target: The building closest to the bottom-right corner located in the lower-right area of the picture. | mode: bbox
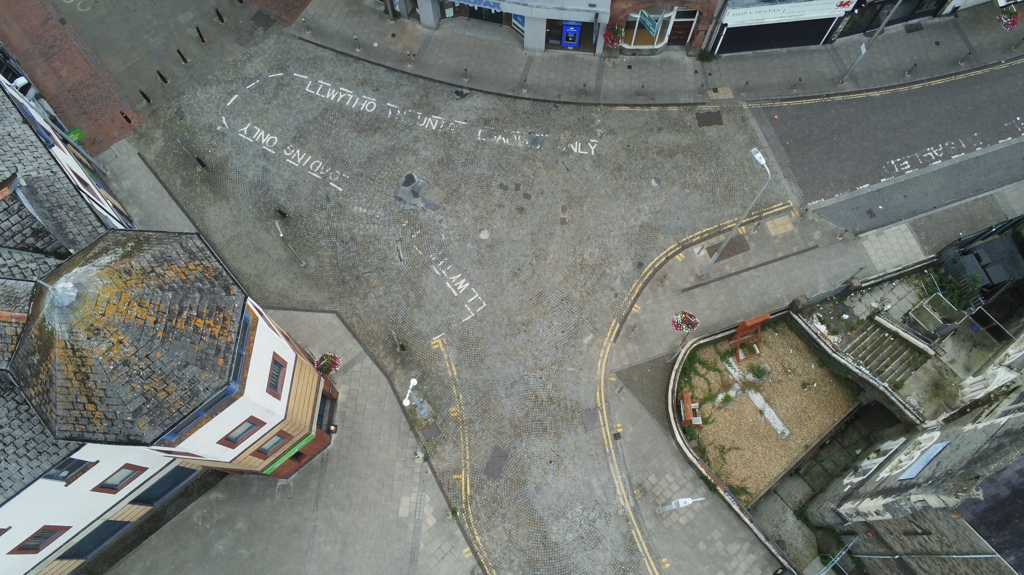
[803,307,1024,575]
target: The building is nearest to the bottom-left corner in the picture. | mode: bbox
[0,50,339,575]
